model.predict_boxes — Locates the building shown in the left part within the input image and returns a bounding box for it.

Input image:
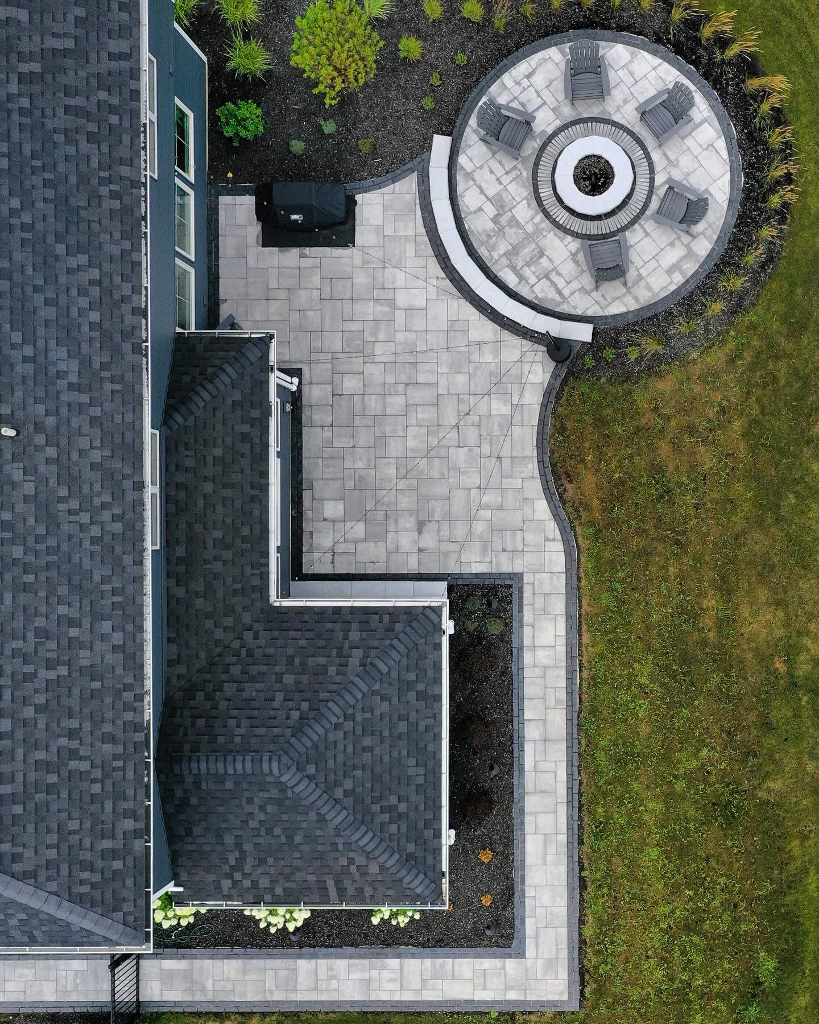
[0,0,455,954]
